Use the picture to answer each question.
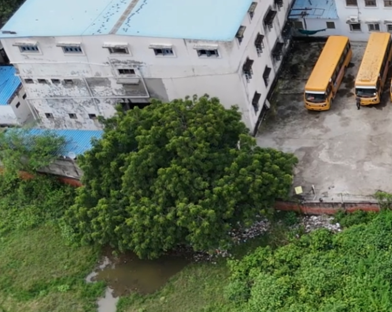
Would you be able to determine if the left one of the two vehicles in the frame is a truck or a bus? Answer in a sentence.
It looks like the left one of the two vehicles is a bus.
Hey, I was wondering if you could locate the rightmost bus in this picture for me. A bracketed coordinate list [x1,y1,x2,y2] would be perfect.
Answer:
[352,34,392,101]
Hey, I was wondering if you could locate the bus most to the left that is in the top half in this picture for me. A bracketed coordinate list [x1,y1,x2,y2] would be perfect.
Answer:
[302,37,350,107]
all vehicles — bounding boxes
[352,34,392,101]
[302,37,350,107]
